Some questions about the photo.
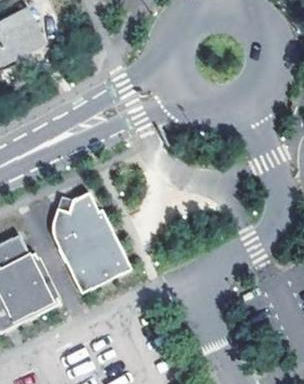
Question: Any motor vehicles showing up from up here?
Yes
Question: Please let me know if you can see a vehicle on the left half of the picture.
Yes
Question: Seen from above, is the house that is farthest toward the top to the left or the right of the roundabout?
left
